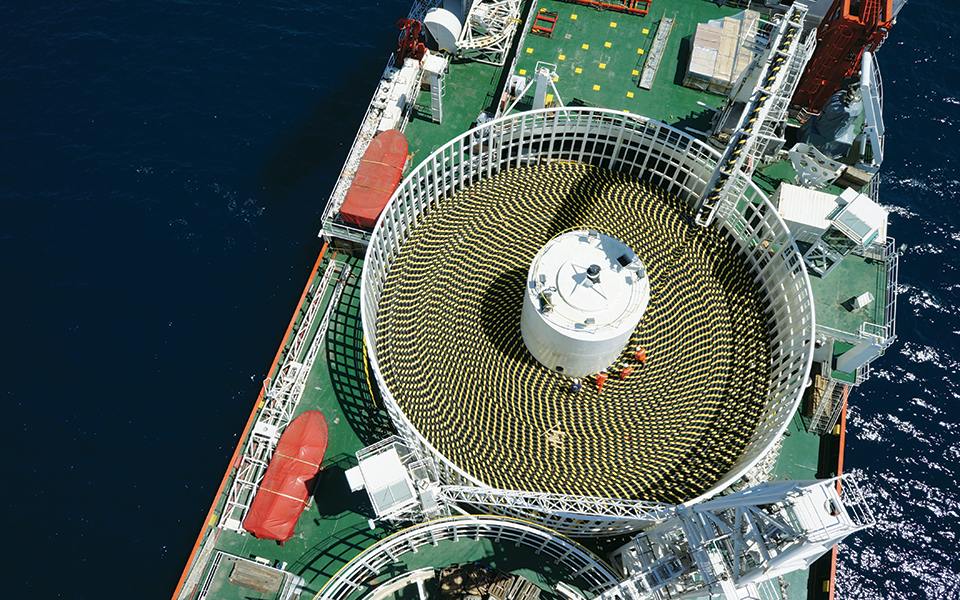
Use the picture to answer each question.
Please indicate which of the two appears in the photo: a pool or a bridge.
bridge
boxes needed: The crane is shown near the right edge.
[799,0,916,101]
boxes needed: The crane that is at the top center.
[392,15,433,78]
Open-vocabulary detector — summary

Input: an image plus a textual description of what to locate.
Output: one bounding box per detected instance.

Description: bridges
[431,482,679,531]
